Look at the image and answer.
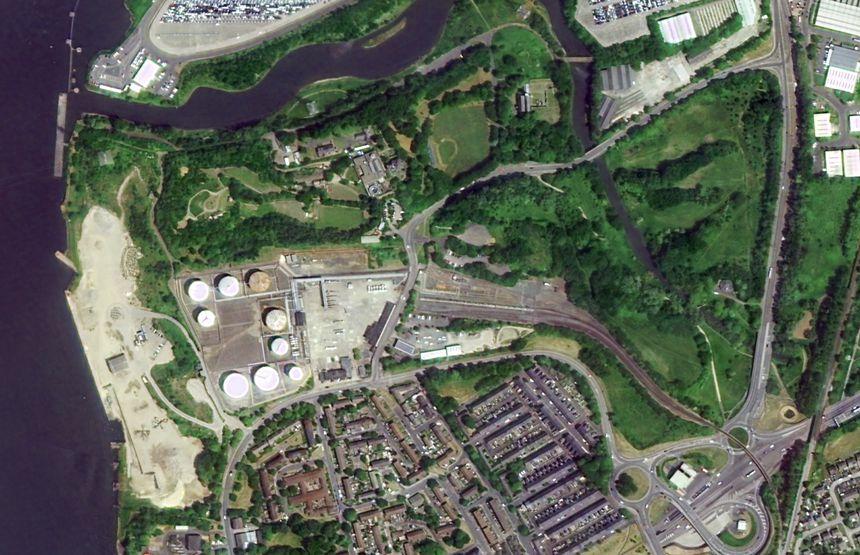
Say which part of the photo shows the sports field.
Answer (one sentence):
The sports field sits in the top section of the image.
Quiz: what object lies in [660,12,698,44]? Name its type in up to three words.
building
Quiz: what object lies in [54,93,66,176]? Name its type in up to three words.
pier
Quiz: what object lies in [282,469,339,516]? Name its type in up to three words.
building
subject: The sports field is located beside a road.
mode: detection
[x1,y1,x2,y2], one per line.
[430,103,489,172]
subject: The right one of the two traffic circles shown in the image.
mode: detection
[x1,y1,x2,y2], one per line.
[722,421,755,453]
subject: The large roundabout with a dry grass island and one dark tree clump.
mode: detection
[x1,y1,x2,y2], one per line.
[609,460,655,507]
